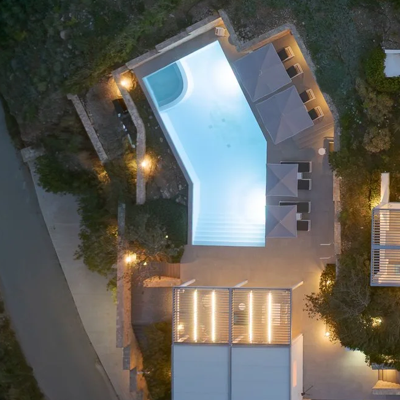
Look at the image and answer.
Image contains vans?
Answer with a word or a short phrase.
No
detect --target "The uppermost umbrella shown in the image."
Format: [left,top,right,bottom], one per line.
[232,42,292,102]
